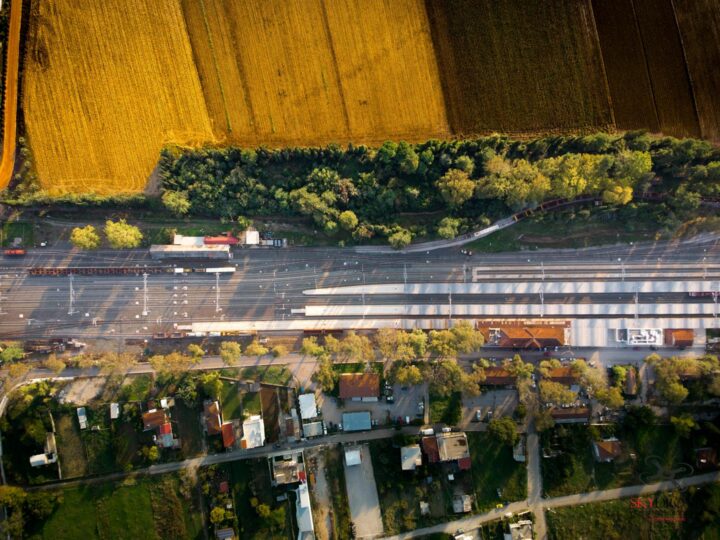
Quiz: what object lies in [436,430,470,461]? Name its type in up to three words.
house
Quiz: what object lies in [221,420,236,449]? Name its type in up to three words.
house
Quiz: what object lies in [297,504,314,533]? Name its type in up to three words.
building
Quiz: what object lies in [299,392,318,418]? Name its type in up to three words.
building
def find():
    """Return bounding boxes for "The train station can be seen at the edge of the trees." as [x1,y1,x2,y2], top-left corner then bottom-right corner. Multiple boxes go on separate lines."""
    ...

[176,266,720,347]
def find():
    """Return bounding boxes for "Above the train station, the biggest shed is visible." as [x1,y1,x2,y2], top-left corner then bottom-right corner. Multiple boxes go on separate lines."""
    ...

[149,245,233,259]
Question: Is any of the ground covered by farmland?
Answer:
Yes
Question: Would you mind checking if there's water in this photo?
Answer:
No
